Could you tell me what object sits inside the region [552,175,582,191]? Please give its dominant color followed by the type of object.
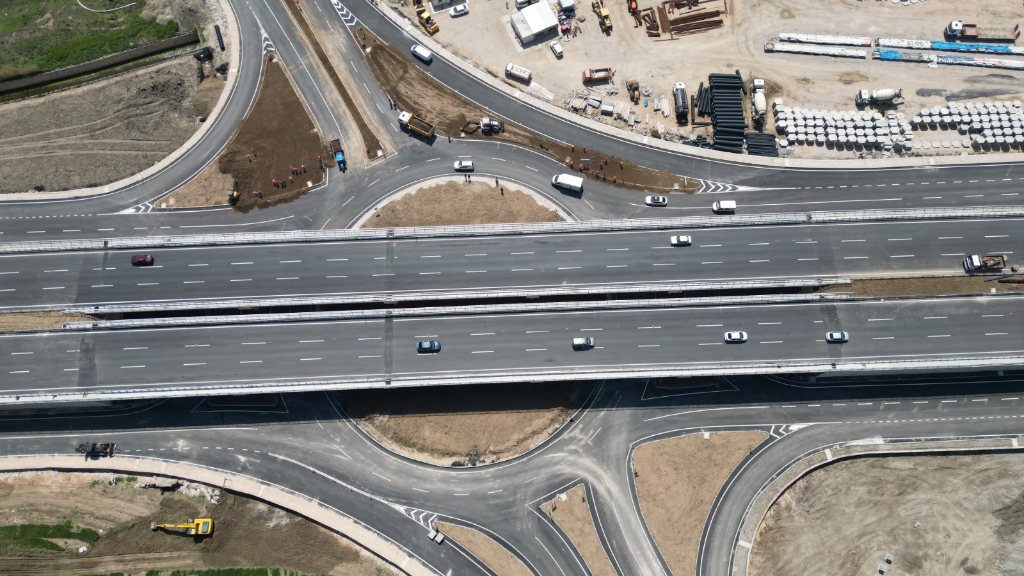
white vehicle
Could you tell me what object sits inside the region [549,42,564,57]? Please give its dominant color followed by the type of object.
white car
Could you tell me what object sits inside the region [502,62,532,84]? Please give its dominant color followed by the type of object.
white truck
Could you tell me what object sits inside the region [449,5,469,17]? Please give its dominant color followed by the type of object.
white vehicle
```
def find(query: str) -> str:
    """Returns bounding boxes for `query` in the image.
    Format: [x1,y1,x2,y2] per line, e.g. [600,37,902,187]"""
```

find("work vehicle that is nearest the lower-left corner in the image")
[76,443,123,457]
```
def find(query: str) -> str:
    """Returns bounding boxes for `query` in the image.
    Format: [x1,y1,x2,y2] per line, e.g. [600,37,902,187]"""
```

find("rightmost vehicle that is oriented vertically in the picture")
[751,84,767,123]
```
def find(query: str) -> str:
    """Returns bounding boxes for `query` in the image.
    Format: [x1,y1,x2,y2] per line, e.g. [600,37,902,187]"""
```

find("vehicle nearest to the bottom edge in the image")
[155,517,214,537]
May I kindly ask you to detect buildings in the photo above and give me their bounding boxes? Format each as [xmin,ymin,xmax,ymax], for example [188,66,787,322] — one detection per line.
[430,0,469,13]
[506,0,561,54]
